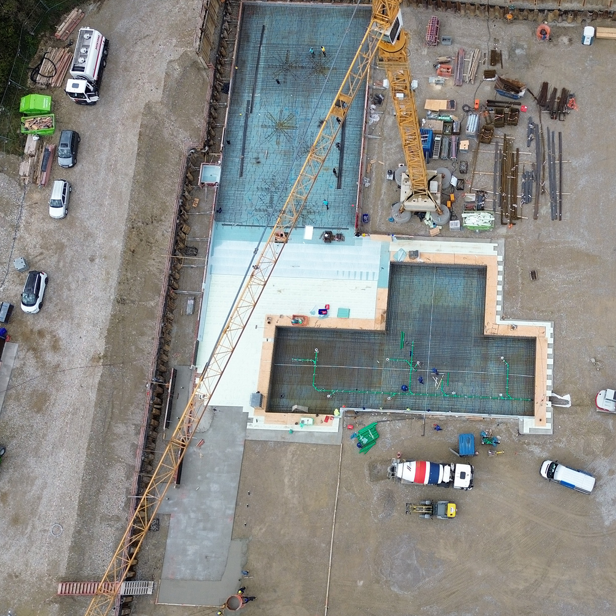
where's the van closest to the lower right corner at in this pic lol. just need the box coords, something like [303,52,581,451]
[538,459,599,497]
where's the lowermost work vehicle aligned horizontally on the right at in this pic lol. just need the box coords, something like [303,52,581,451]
[402,500,456,521]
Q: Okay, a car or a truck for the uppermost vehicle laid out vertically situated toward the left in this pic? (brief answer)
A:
truck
